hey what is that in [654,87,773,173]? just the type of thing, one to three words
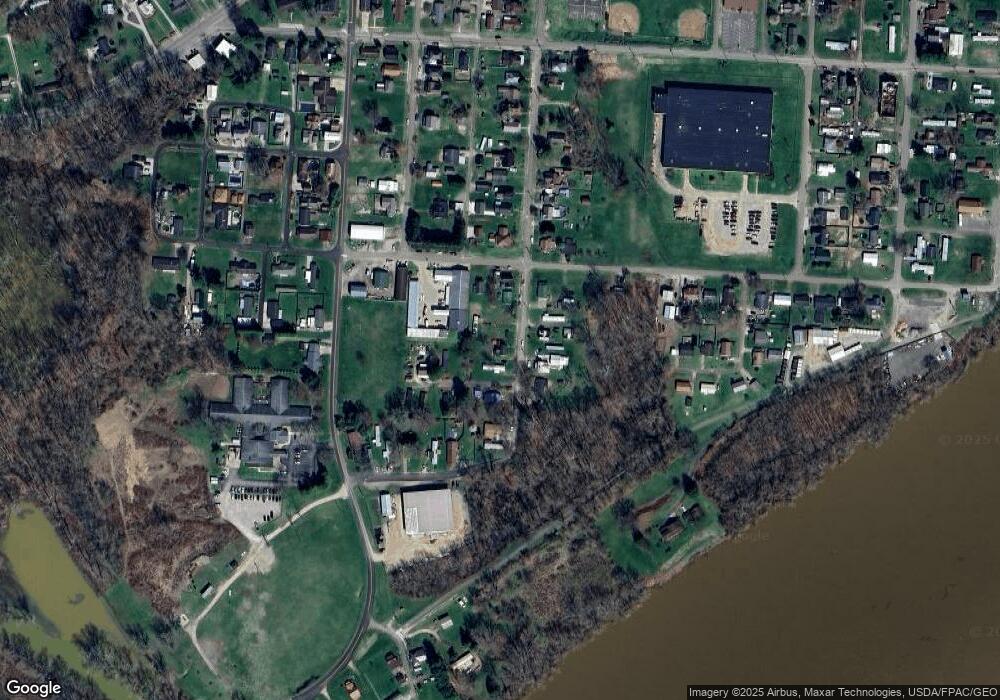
building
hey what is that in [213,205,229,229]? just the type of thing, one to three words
house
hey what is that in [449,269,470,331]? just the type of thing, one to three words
building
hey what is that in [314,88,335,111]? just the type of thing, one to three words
house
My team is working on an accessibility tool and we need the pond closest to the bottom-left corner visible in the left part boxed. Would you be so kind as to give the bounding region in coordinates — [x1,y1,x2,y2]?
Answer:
[0,501,134,700]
